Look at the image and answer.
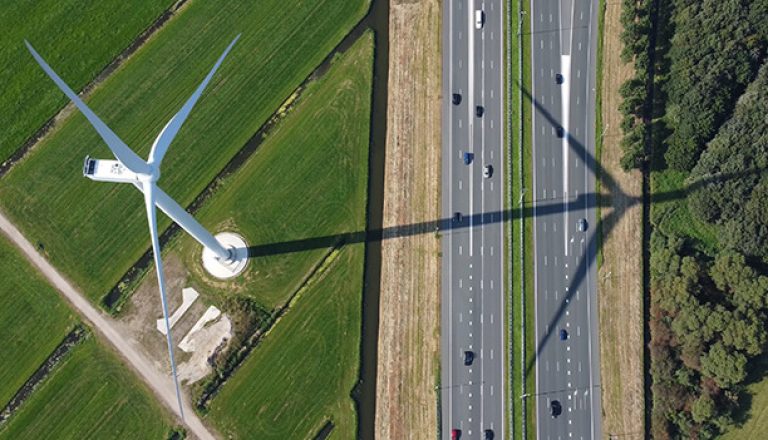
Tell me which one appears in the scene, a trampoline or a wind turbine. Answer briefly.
wind turbine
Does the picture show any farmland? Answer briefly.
No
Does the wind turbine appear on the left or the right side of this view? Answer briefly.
left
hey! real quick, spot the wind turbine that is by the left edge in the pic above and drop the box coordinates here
[25,35,239,419]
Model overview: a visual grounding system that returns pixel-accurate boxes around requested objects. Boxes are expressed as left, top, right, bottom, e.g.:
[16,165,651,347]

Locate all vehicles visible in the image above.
[556,127,562,138]
[556,74,561,84]
[451,430,457,440]
[551,400,558,416]
[464,152,470,165]
[464,352,470,365]
[578,219,584,232]
[476,106,482,118]
[483,166,489,178]
[476,10,482,28]
[560,329,566,340]
[452,94,458,105]
[484,430,490,440]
